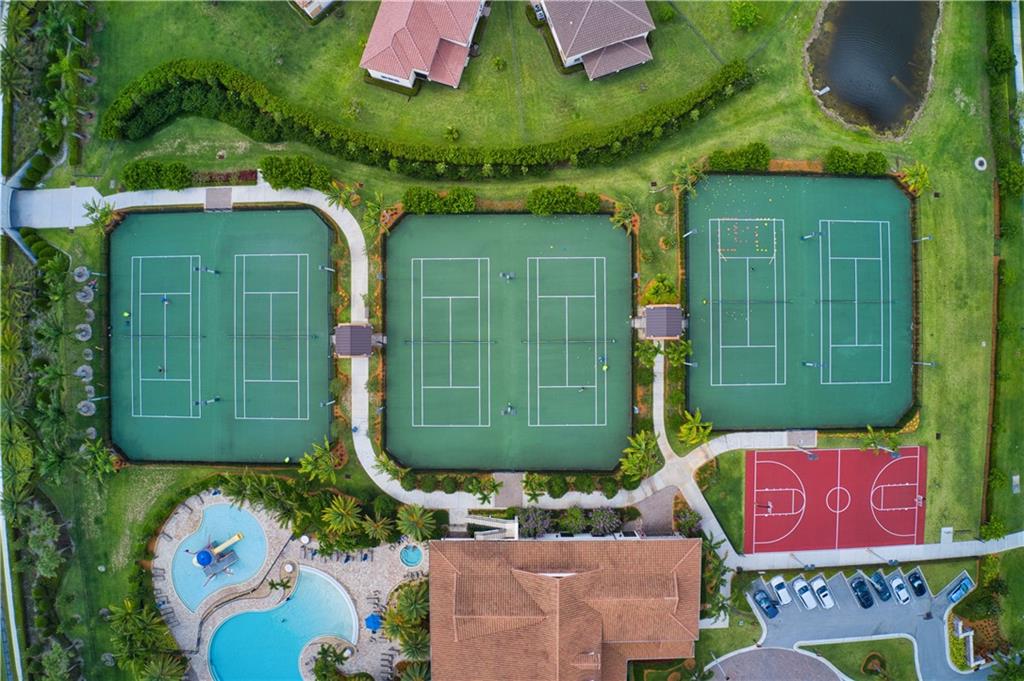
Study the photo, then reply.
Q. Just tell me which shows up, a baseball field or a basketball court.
basketball court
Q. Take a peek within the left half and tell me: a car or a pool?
pool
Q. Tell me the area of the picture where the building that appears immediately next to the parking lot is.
bottom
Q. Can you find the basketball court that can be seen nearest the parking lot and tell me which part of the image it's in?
bottom right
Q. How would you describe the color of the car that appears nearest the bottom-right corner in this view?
blue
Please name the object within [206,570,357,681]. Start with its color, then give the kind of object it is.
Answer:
blue swimming pool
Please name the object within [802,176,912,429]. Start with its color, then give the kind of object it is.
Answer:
green tennis court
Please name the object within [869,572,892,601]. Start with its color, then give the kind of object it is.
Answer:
blue car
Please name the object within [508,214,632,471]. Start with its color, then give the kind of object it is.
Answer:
green tennis court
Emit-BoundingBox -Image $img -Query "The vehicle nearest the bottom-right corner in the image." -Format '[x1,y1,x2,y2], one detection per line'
[946,577,972,603]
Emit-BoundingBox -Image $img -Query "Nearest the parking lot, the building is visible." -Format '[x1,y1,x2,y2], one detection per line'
[429,529,702,681]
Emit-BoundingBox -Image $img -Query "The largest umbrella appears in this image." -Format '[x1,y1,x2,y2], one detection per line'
[366,612,384,630]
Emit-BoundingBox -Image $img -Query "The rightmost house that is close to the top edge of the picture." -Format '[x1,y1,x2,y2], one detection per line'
[541,0,656,86]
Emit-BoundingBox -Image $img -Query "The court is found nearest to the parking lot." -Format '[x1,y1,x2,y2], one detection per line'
[744,446,928,553]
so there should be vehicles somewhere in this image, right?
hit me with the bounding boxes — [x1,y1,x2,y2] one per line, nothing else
[946,577,972,603]
[770,576,792,604]
[888,576,911,605]
[905,572,927,597]
[755,590,777,618]
[792,578,818,609]
[869,572,892,601]
[849,577,876,609]
[810,577,835,608]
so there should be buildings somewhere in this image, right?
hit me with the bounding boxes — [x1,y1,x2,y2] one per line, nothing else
[298,0,335,17]
[642,304,682,341]
[360,0,481,93]
[429,529,702,681]
[335,323,376,359]
[541,0,656,86]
